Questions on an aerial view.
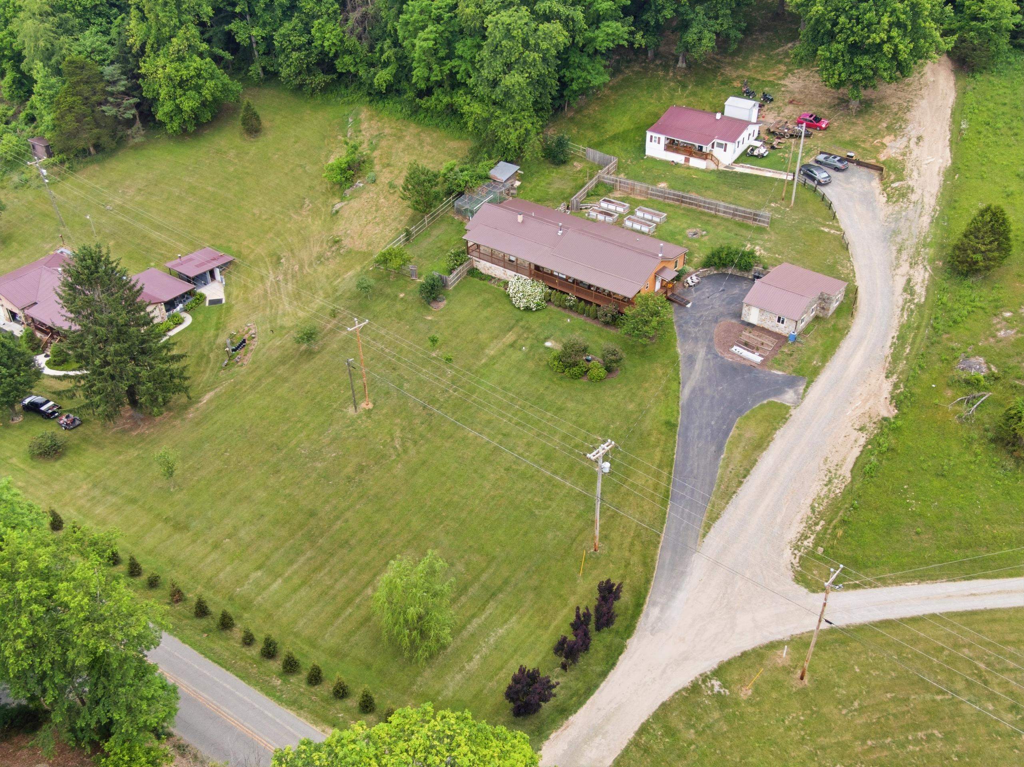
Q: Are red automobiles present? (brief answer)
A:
Yes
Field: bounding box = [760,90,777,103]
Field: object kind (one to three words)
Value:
vehicle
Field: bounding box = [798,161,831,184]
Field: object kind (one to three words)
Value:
car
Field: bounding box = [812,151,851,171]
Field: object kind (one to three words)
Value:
car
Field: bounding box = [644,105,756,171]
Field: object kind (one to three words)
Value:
house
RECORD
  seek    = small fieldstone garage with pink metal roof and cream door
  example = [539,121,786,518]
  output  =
[741,261,849,336]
